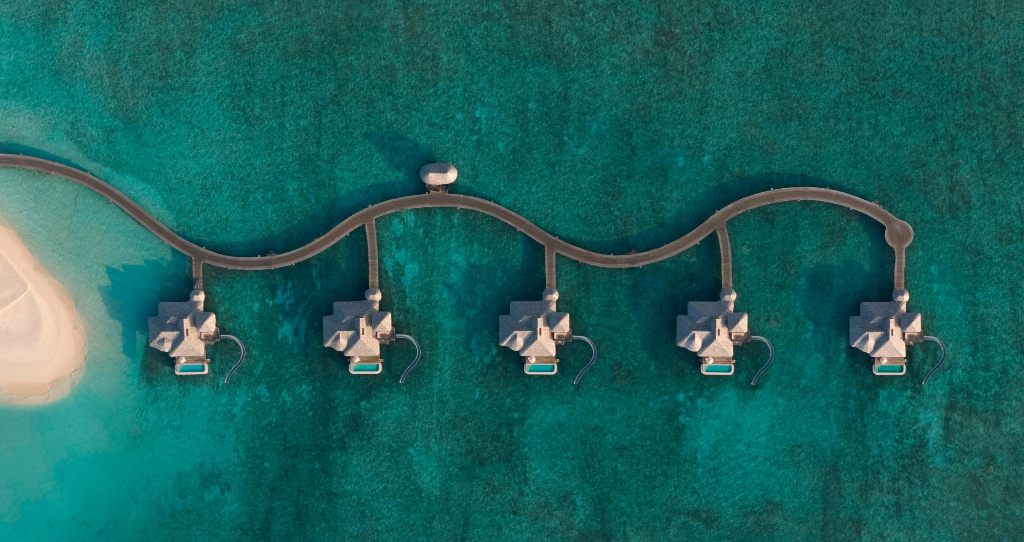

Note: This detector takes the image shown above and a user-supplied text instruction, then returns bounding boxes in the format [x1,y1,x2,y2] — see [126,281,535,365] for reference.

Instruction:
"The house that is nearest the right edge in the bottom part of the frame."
[848,289,927,365]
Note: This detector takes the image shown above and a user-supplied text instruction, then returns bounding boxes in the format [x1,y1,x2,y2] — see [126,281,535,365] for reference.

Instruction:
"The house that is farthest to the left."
[147,288,226,364]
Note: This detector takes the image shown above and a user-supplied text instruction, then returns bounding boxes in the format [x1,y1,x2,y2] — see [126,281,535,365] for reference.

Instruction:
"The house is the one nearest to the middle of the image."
[499,289,578,364]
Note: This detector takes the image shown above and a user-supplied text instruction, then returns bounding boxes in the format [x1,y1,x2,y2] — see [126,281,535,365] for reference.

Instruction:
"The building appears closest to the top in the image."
[420,162,458,194]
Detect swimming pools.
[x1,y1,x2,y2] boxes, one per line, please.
[872,364,906,375]
[348,363,382,374]
[524,364,557,374]
[700,364,734,374]
[175,364,209,374]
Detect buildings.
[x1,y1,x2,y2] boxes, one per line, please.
[420,162,458,194]
[677,289,755,365]
[323,288,402,364]
[848,289,927,365]
[147,288,226,364]
[499,289,578,364]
